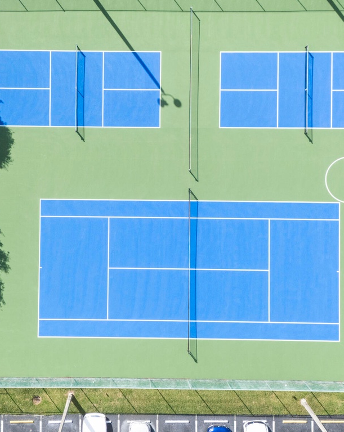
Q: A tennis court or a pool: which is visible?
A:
tennis court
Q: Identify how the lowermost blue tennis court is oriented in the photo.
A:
horizontally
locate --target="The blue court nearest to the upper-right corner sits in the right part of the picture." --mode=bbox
[219,51,344,129]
